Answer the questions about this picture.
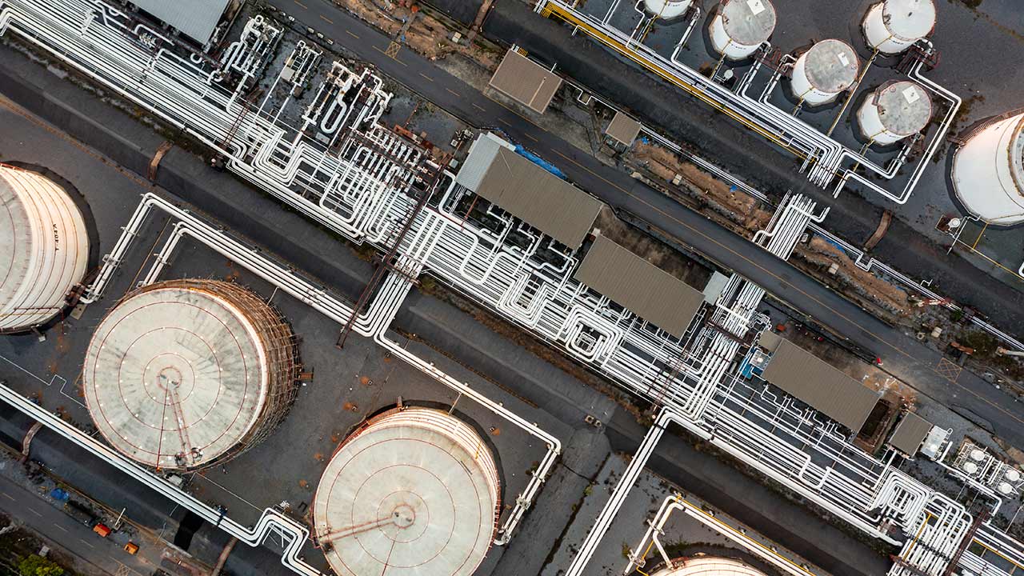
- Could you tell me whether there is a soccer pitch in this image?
No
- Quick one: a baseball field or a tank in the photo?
tank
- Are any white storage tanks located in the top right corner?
Yes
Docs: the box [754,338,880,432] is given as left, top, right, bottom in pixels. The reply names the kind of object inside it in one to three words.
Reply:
shed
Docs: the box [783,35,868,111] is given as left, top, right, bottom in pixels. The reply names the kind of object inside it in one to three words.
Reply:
storage tank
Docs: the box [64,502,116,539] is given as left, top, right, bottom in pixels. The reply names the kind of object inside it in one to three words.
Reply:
truck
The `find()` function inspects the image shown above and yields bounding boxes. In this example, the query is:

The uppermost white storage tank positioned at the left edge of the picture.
[0,153,99,343]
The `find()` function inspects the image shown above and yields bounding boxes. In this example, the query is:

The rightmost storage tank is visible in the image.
[945,90,1024,231]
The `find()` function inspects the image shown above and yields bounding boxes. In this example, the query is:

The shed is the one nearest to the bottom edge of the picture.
[883,411,933,457]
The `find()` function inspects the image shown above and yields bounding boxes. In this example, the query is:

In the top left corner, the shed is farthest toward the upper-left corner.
[116,0,236,50]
